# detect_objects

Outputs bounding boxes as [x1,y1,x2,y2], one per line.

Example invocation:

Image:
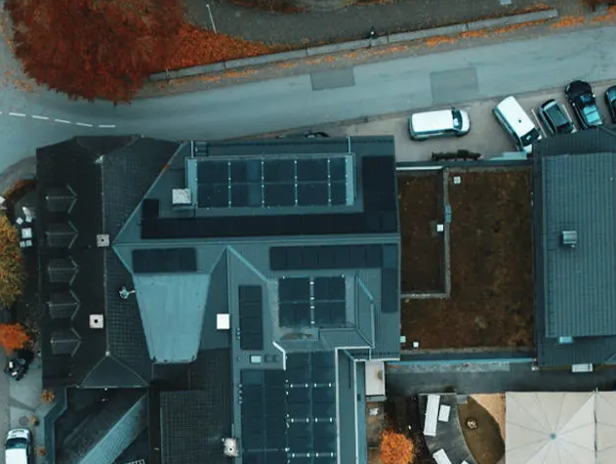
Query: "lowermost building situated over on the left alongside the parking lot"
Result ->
[36,135,403,464]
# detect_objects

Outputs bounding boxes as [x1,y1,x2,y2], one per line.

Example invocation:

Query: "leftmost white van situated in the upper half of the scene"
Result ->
[408,109,470,141]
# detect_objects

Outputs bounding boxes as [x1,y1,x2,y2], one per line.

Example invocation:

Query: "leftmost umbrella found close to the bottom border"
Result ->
[505,391,595,464]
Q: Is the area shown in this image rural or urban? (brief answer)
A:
urban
